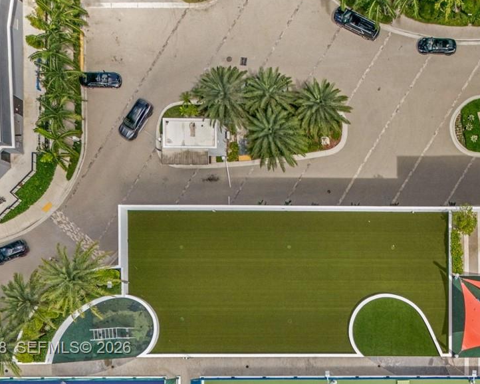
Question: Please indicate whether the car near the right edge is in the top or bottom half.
top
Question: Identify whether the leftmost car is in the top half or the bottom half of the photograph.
bottom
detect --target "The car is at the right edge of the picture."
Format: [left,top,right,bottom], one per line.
[417,34,457,57]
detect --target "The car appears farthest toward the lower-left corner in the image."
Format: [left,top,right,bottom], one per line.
[0,240,30,265]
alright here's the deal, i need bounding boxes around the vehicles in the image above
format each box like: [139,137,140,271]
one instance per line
[79,68,122,90]
[0,240,30,265]
[334,6,380,40]
[121,95,153,140]
[417,34,457,57]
